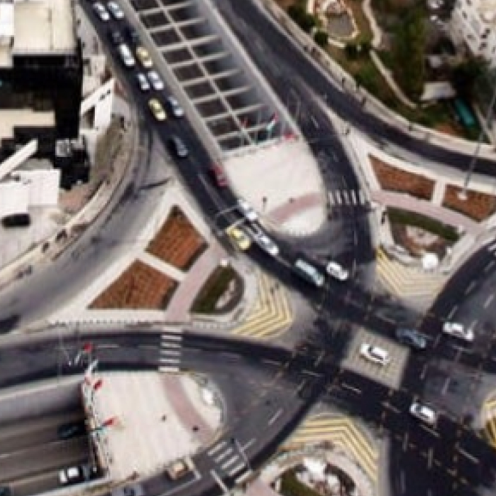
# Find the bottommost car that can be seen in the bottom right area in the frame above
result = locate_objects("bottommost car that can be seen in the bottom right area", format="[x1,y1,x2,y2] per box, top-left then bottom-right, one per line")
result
[407,398,441,427]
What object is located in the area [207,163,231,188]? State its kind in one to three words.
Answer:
car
